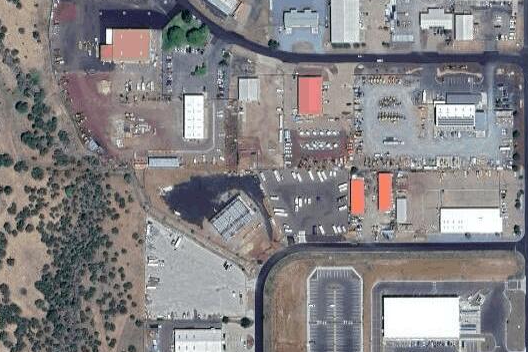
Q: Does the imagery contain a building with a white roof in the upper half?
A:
Yes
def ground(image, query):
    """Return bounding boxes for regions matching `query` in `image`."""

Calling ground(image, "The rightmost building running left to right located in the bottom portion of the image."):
[441,208,501,233]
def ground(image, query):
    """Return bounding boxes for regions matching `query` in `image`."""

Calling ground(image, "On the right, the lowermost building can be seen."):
[384,296,461,337]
